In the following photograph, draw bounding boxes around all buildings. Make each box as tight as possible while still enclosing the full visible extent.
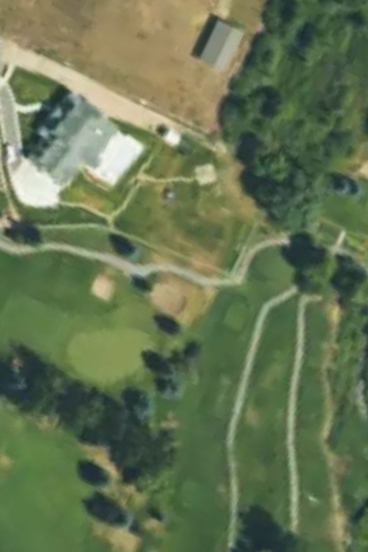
[201,17,244,69]
[162,128,182,147]
[32,91,144,185]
